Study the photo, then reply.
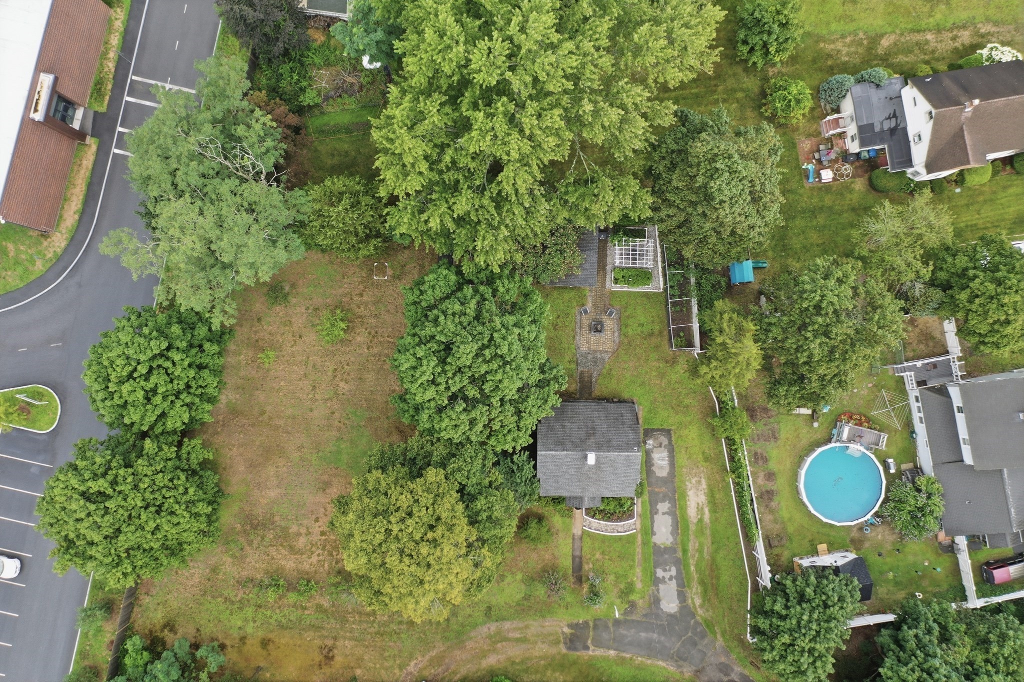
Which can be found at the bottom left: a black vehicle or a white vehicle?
white vehicle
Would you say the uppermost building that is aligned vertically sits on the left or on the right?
left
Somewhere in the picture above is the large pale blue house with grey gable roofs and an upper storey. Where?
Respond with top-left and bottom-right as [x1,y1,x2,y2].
[905,366,1024,552]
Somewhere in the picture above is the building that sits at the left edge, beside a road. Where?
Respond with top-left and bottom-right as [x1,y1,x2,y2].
[0,0,113,234]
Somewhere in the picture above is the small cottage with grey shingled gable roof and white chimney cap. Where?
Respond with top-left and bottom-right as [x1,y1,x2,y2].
[537,399,642,507]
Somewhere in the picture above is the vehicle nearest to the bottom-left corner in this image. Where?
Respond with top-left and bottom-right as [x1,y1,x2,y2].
[0,557,20,580]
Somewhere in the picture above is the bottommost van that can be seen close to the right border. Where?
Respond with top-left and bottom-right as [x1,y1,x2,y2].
[983,551,1024,585]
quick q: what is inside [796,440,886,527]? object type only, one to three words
swimming pool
